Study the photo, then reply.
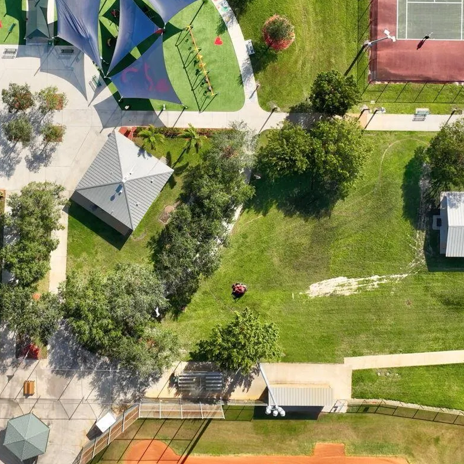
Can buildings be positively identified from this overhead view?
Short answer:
Yes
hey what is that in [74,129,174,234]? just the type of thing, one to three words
building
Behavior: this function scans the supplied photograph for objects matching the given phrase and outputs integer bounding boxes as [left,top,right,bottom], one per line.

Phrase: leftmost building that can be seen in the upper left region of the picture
[25,0,51,41]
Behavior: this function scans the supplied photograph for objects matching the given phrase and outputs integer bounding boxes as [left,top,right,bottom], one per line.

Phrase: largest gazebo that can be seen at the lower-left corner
[4,409,49,460]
